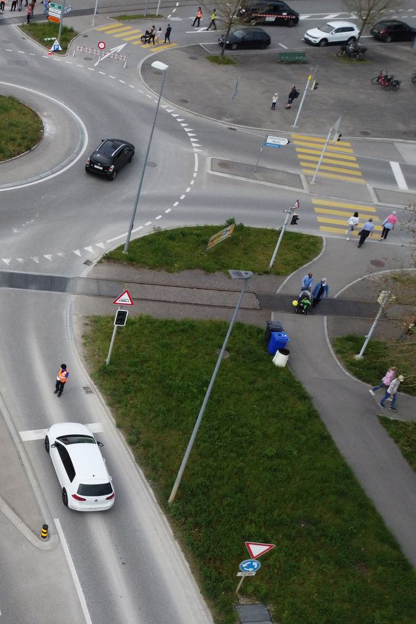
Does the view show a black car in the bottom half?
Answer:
No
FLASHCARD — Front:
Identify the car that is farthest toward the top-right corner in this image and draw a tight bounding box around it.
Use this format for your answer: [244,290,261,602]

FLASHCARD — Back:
[371,17,416,42]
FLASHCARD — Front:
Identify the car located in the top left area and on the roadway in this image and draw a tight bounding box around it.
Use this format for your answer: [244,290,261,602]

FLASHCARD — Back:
[85,138,138,181]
